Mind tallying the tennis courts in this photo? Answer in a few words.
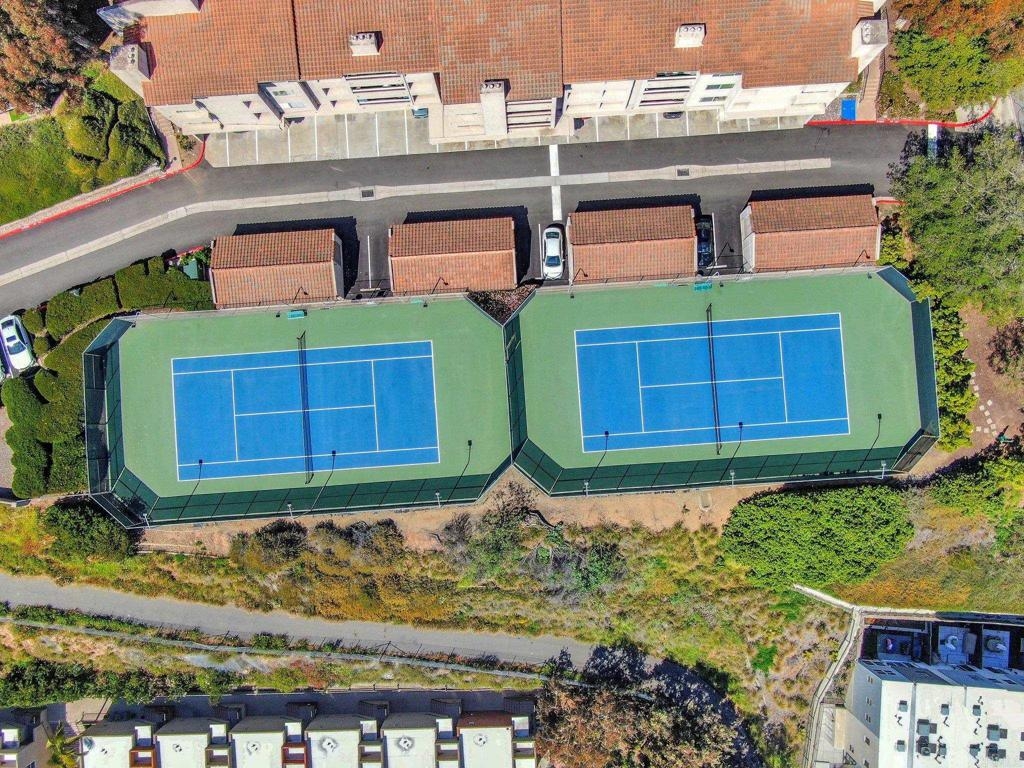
2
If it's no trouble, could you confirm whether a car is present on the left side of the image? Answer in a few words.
Yes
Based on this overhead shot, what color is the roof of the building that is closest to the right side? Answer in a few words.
white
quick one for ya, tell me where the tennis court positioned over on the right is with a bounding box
[504,273,921,491]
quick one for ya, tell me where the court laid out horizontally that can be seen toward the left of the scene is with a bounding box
[104,302,511,523]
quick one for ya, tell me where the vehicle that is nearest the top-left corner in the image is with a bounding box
[0,318,38,373]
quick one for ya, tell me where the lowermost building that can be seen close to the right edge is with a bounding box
[853,664,1024,768]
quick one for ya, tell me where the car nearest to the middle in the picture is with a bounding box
[541,226,566,280]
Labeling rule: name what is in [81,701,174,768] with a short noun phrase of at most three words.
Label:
house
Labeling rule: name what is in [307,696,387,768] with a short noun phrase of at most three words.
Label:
house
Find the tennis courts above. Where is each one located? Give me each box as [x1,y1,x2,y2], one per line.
[104,302,511,523]
[504,273,921,491]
